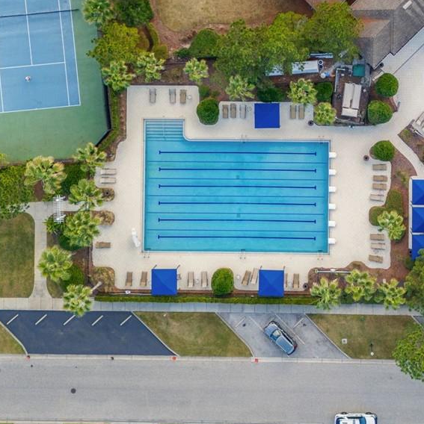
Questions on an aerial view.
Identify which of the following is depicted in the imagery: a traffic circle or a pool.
pool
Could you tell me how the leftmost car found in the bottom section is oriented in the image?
on a diagonal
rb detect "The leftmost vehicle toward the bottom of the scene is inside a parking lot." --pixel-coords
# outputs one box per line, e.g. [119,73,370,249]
[262,319,299,357]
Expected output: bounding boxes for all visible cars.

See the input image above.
[334,412,377,424]
[262,319,299,357]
